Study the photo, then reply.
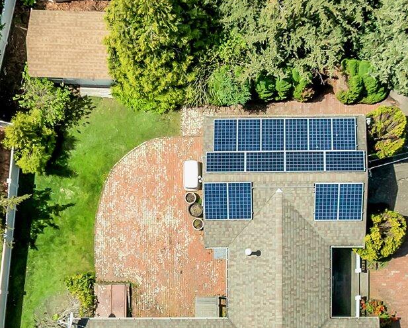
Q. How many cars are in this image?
zero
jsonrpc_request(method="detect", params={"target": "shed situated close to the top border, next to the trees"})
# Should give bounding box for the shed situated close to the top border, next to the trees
[27,9,115,98]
